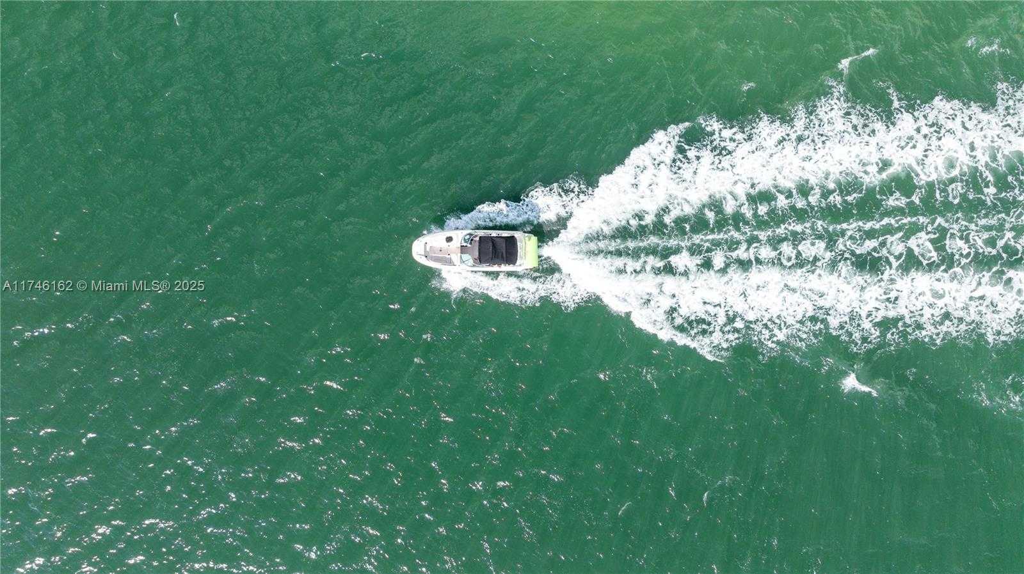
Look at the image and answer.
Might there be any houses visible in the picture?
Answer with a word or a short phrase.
No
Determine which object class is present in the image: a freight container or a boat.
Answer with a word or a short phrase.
boat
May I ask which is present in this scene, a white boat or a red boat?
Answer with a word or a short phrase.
white boat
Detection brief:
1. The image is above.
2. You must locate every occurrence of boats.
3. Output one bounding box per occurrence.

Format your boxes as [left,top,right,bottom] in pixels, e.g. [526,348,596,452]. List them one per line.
[412,230,538,272]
